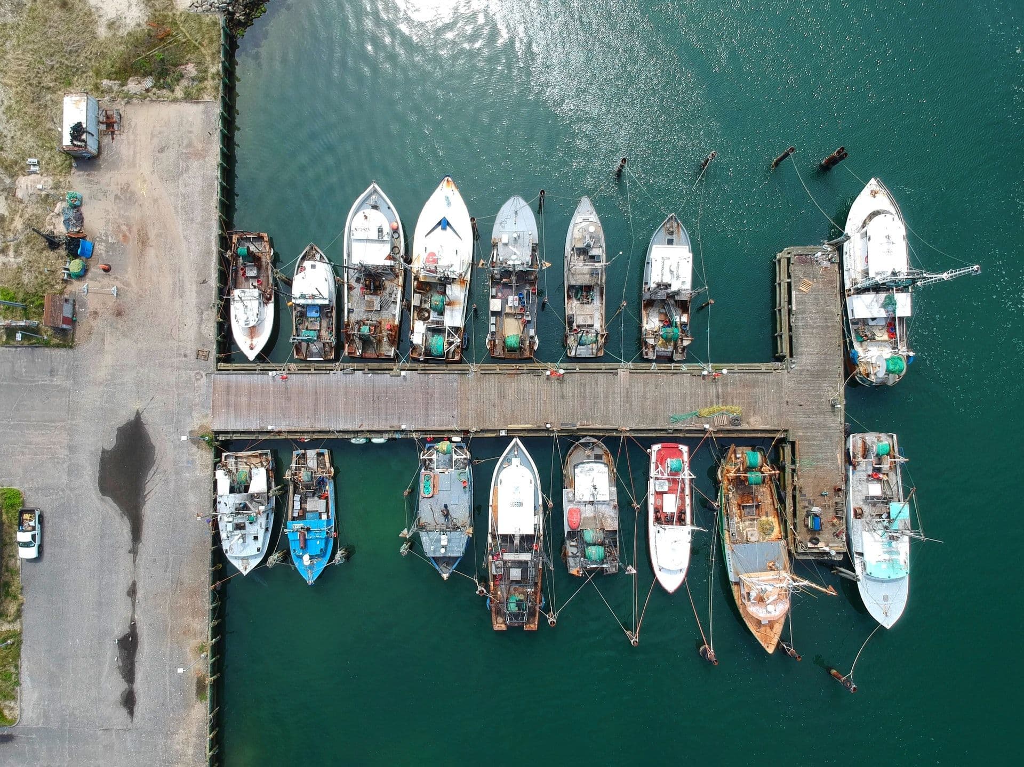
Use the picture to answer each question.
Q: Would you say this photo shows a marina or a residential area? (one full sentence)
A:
The picture captures a marina.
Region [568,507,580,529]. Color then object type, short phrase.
red boat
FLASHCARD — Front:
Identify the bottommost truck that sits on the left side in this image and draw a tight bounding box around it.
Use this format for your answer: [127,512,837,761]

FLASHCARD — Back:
[16,506,43,559]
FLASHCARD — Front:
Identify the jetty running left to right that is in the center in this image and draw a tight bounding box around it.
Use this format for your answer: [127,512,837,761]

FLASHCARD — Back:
[213,247,847,559]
